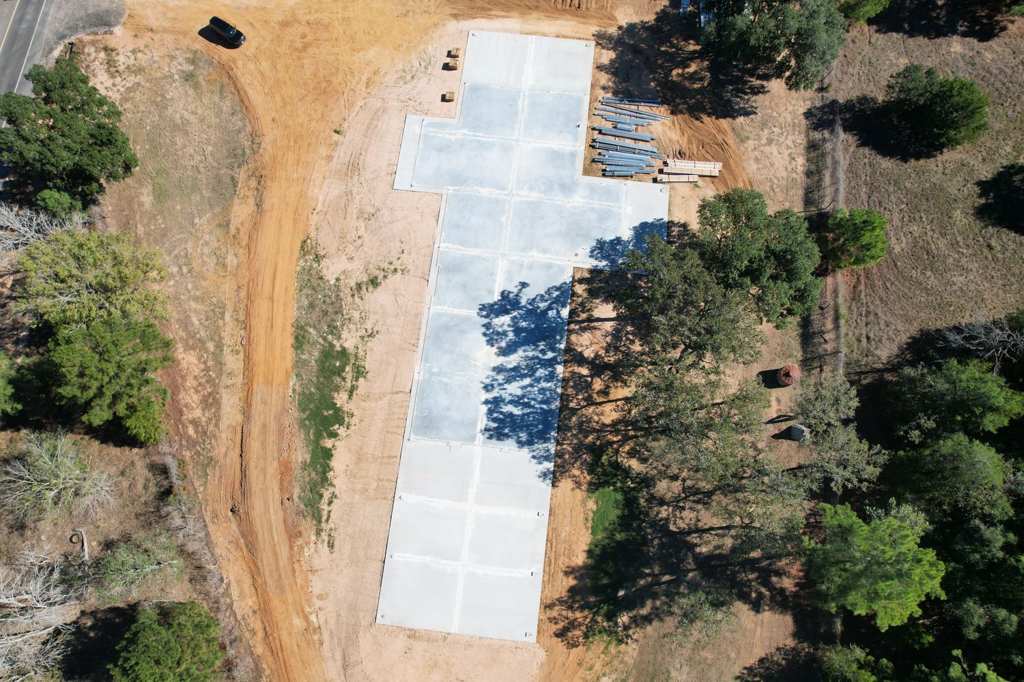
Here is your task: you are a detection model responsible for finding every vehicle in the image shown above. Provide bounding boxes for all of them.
[206,15,247,47]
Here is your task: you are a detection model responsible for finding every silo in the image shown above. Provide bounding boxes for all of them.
[777,364,804,387]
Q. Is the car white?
No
